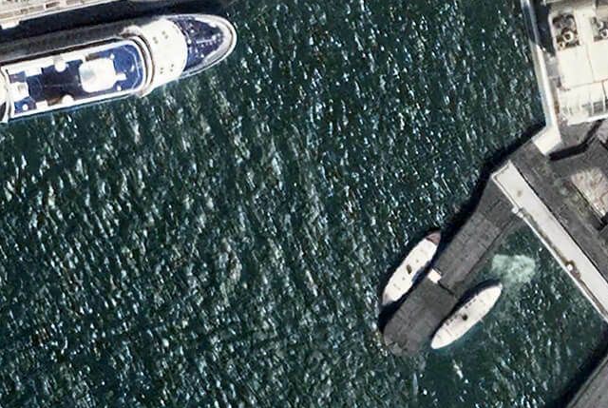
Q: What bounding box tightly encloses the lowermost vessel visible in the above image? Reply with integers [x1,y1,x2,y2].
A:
[433,282,501,346]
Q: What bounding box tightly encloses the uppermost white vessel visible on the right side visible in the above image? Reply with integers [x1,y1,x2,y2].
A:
[384,232,439,302]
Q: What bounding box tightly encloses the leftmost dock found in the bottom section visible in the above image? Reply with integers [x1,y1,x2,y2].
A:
[383,175,521,353]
